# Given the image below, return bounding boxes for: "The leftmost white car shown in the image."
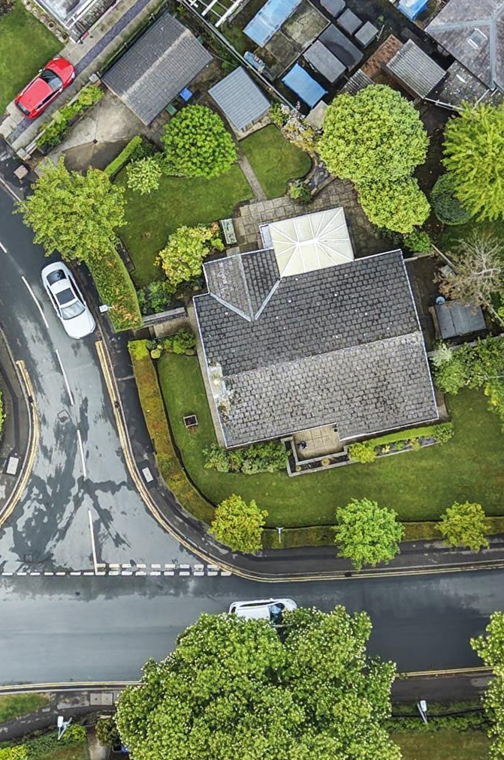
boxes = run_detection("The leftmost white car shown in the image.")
[44,259,92,341]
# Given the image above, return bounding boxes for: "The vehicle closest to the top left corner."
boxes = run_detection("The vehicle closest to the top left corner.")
[14,55,76,119]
